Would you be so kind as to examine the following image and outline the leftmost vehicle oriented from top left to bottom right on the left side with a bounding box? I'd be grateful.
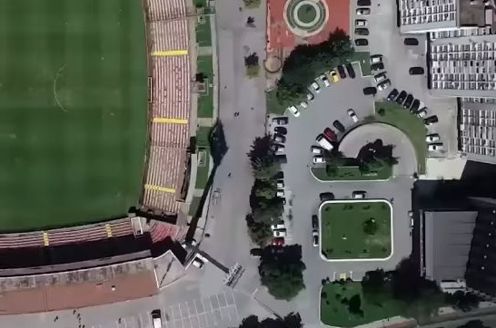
[188,257,205,272]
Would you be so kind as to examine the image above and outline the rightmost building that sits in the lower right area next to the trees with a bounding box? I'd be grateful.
[450,192,496,291]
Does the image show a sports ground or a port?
sports ground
